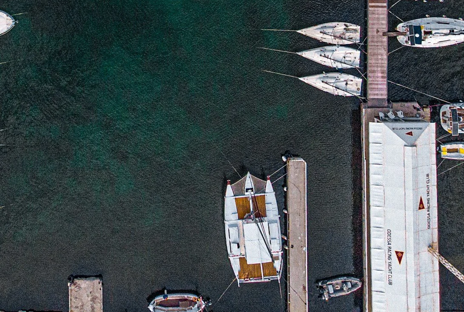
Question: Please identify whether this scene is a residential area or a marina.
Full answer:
This image shows a marina.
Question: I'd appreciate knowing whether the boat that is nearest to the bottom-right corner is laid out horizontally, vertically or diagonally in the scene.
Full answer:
The boat that is nearest to the bottom-right corner has been laid out horizontally relative to the frame.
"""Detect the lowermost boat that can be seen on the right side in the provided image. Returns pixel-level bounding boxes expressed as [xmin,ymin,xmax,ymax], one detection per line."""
[315,278,362,302]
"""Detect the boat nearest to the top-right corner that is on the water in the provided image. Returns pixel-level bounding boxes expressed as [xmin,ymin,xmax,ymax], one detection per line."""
[393,16,464,47]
